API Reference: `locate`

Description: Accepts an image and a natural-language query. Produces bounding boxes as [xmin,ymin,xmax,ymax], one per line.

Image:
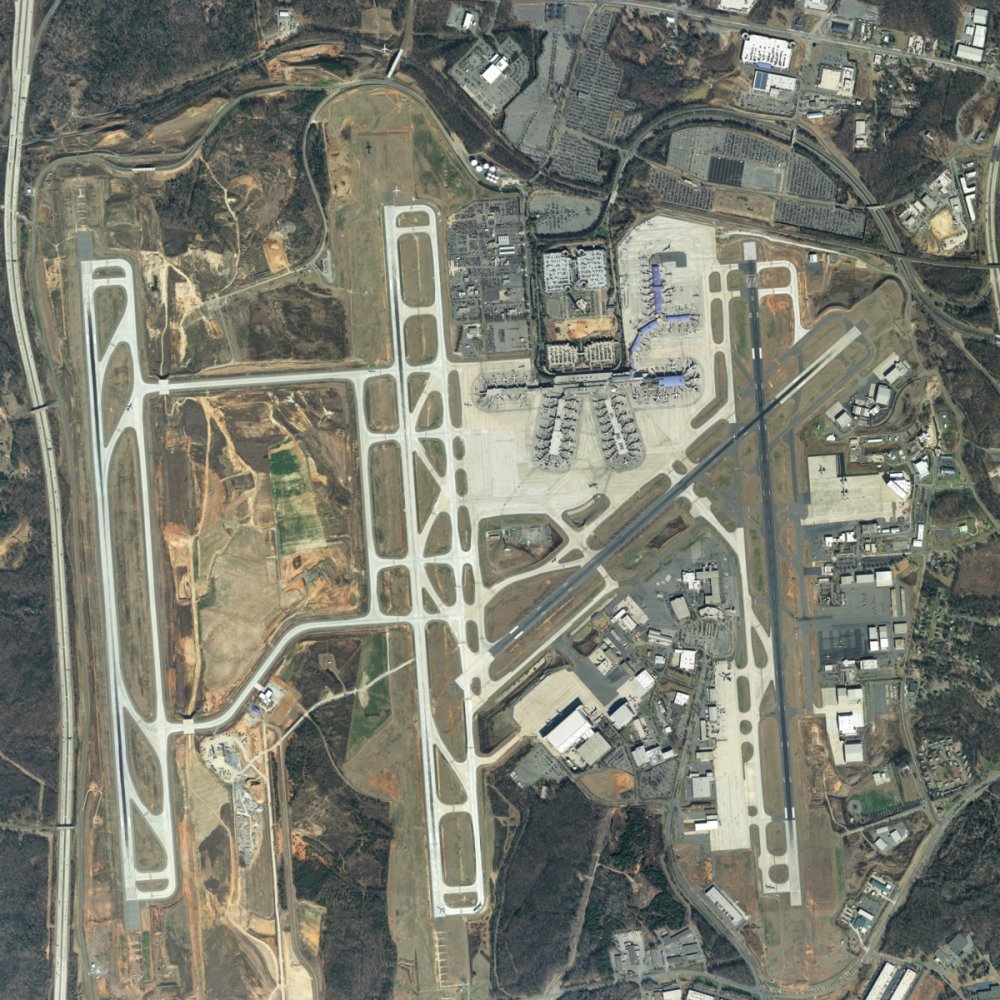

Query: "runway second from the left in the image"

[384,205,447,928]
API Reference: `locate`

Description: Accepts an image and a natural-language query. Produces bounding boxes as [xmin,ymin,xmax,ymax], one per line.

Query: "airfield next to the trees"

[77,202,909,929]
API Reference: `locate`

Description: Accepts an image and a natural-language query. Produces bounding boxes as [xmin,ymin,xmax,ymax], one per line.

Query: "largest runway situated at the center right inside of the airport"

[743,241,801,906]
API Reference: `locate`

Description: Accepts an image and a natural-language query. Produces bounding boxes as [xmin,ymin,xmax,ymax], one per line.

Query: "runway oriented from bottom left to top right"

[487,325,861,658]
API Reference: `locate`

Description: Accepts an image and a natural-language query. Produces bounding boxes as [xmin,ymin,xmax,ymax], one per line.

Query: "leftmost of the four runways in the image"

[77,232,141,929]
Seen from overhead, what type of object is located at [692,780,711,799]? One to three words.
building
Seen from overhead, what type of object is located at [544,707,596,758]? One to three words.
hangar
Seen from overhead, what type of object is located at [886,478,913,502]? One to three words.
hangar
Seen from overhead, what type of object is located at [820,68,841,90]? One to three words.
building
